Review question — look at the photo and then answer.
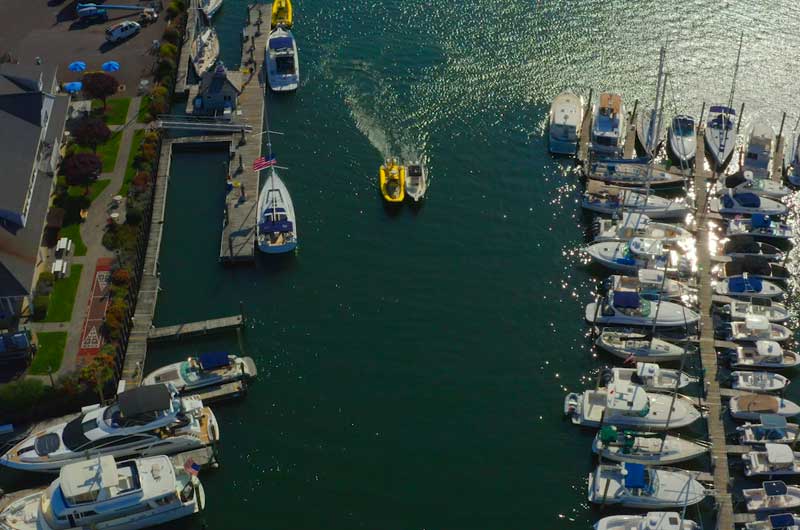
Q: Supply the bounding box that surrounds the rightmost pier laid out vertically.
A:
[770,127,788,184]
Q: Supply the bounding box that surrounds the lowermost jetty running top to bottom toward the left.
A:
[127,141,174,383]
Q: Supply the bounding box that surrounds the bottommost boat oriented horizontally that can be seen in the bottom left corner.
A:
[0,436,209,530]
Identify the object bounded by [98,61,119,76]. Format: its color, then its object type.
blue umbrella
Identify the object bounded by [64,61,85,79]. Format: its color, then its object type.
blue umbrella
